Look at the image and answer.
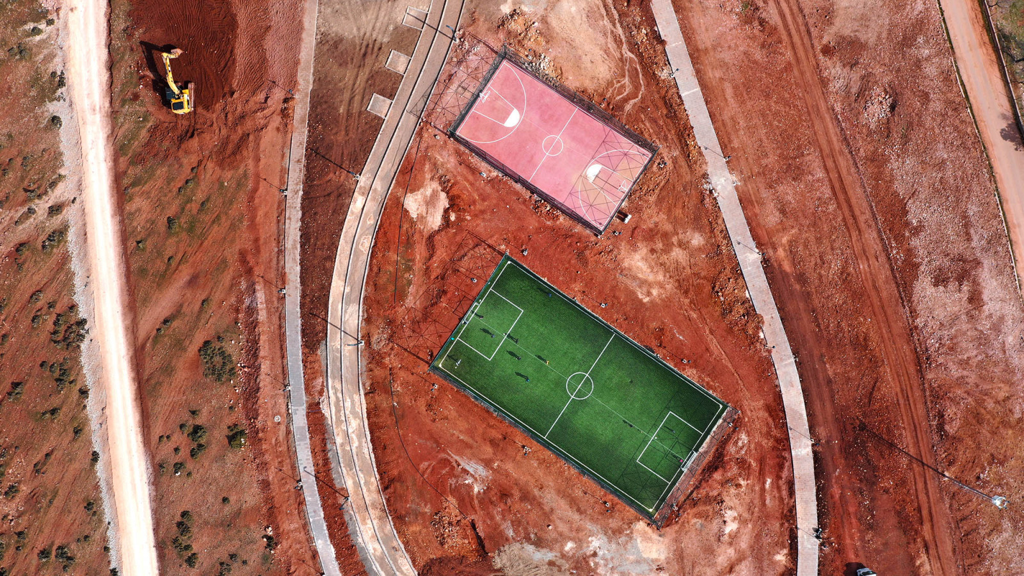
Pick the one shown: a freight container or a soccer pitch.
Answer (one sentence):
Of the two, only a soccer pitch appears.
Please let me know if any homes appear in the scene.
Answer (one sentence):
No, the scene contains no home.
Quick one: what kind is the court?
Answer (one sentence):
In the photo, the court shows up as a basketball court.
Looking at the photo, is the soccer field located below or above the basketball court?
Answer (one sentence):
The position of the soccer field is below the basketball court.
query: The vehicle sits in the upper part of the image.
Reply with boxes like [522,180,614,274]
[163,51,197,115]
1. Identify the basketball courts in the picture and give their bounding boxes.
[452,53,657,235]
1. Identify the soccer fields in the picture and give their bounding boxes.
[430,253,731,519]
